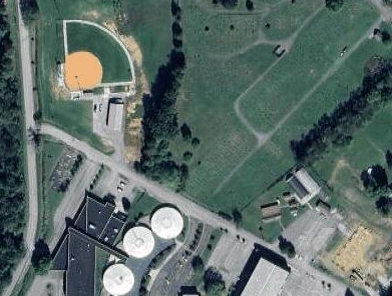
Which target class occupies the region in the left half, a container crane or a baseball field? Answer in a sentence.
You can see a baseball field in the left half.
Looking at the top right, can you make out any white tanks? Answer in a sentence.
No, there's no white tank to be seen at the top right.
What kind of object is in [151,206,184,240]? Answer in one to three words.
storage tank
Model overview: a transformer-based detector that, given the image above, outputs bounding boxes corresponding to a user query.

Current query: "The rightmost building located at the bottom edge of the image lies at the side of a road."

[241,258,290,296]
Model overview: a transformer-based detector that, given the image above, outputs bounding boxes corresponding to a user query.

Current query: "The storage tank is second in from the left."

[123,227,155,258]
